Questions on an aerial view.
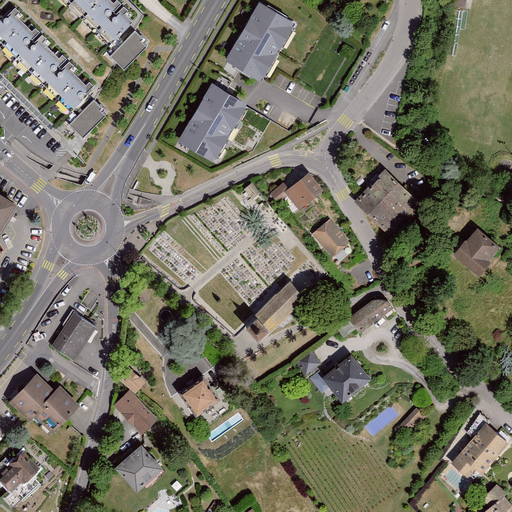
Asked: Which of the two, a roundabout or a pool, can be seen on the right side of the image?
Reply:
pool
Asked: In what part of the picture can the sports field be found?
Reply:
top right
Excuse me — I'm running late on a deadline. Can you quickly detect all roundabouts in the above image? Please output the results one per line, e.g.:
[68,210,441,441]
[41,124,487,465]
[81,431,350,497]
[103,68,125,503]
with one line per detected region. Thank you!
[50,190,124,264]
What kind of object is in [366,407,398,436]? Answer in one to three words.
swimming pool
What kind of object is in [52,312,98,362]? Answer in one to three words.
building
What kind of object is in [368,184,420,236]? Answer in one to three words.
house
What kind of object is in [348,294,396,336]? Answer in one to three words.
house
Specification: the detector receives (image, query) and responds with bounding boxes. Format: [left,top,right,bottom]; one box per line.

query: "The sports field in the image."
[444,0,512,162]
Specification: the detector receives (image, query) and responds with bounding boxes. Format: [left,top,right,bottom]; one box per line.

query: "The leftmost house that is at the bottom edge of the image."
[0,451,42,494]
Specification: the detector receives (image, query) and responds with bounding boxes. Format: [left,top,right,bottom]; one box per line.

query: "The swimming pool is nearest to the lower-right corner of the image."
[444,468,463,488]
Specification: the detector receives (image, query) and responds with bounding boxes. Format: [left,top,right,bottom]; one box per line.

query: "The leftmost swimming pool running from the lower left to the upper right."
[210,413,244,442]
